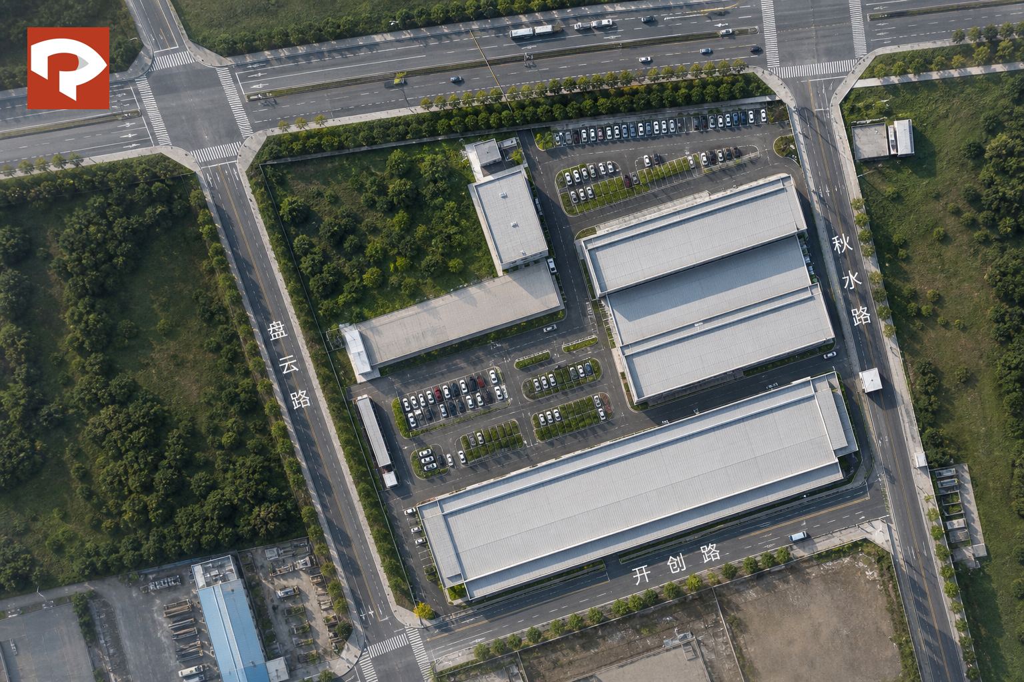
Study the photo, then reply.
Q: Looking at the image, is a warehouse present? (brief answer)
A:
Yes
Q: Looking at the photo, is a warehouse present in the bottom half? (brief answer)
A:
Yes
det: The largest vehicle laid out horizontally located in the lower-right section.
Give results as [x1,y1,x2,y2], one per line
[788,530,809,542]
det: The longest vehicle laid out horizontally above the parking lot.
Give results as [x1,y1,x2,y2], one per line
[508,22,552,38]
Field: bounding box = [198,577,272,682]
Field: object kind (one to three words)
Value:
shed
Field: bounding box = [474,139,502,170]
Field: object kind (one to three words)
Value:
building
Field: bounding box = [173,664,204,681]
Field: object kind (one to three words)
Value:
vehicle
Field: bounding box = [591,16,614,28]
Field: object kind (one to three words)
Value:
vehicle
